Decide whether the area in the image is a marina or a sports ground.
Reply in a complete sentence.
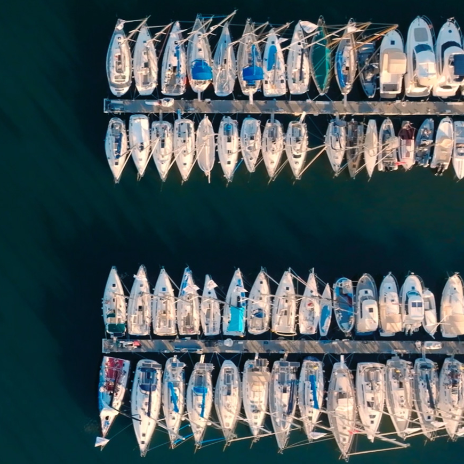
What you see here is a marina.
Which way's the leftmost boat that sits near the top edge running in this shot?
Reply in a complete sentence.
The leftmost boat that sits near the top edge is laid out from top to bottom.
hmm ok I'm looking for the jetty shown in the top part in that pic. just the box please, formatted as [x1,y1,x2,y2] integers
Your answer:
[103,99,464,115]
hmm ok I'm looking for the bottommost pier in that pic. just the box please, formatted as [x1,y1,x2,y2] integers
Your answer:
[102,338,464,354]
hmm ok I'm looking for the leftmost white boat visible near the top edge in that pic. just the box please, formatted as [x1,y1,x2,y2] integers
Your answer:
[105,14,148,99]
